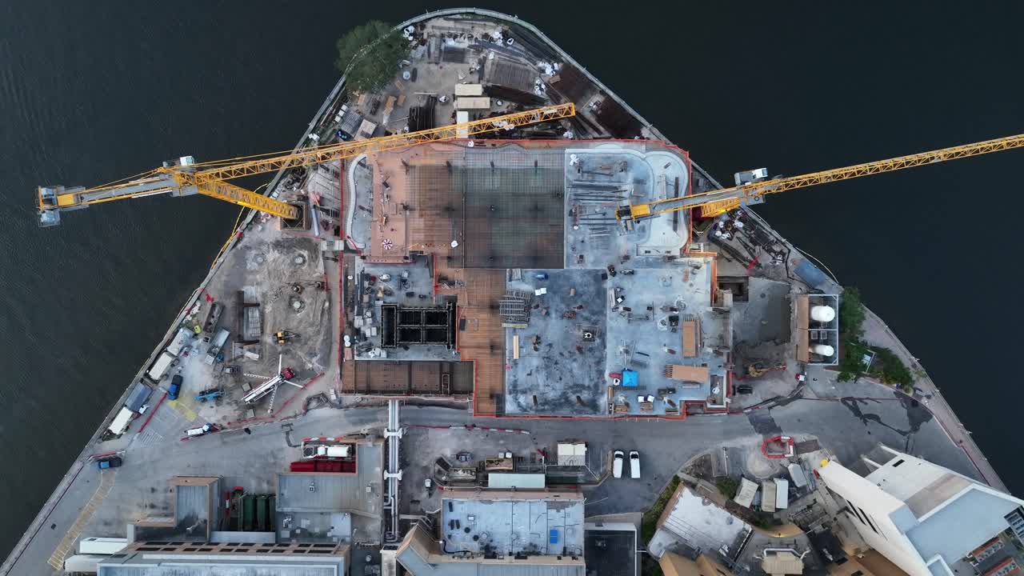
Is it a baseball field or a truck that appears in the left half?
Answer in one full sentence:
Looking in the left half, you will find a truck.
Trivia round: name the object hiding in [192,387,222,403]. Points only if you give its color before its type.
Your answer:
blue work vehicle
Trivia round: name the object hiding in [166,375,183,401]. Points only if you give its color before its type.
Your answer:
blue vehicle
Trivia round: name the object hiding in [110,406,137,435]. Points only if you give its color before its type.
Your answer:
white truck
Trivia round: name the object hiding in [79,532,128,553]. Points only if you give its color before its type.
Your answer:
white trailer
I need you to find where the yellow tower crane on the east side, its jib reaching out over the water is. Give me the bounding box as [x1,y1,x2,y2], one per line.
[625,134,1024,233]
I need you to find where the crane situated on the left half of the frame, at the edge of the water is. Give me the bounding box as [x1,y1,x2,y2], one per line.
[36,102,576,227]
